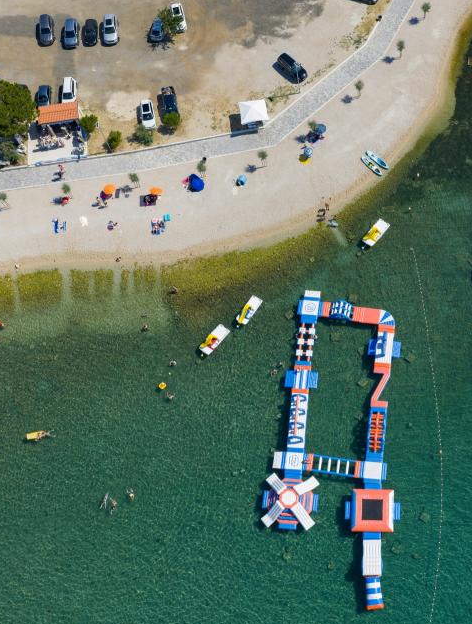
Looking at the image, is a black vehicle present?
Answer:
Yes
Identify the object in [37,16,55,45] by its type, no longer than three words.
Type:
car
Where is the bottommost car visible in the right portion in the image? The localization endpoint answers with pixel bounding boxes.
[276,53,307,82]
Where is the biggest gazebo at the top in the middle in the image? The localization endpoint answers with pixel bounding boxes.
[240,100,270,136]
